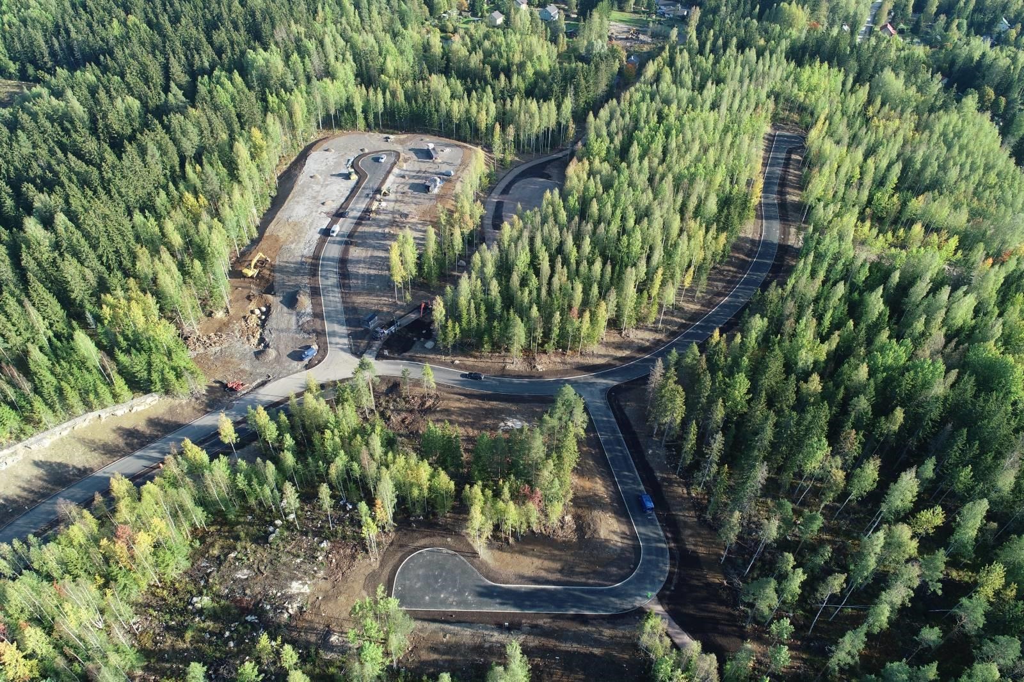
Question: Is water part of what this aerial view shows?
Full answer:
No, there is no water in the image.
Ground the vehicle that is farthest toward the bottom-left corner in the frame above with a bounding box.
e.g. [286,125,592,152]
[301,341,318,358]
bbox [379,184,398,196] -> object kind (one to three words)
vehicle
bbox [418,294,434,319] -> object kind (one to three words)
work vehicle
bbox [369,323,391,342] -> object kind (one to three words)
vehicle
